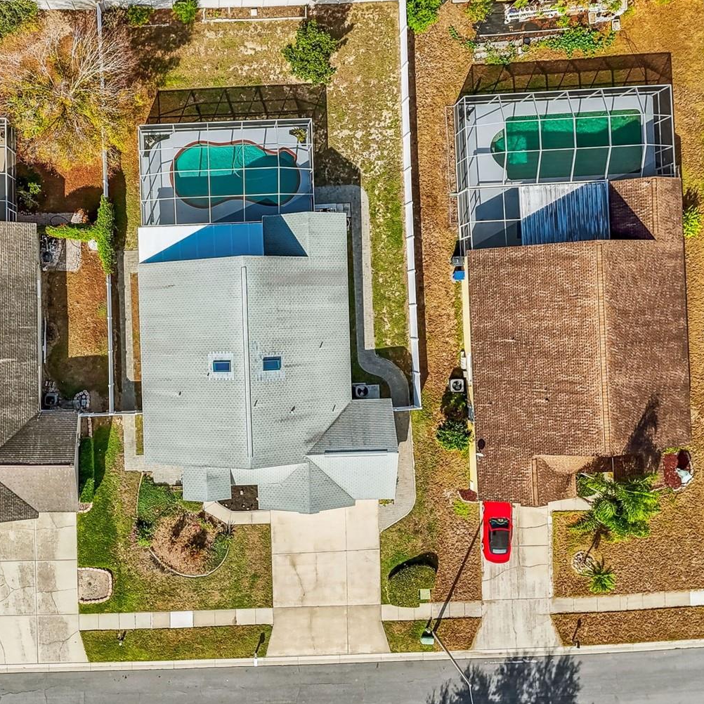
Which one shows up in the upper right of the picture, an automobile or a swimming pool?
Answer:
swimming pool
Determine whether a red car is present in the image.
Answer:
Yes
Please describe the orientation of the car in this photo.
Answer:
up and down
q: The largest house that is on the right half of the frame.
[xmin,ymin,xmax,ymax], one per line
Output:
[457,177,690,507]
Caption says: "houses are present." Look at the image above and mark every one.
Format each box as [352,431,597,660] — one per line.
[137,212,398,513]
[457,177,690,507]
[0,221,81,524]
